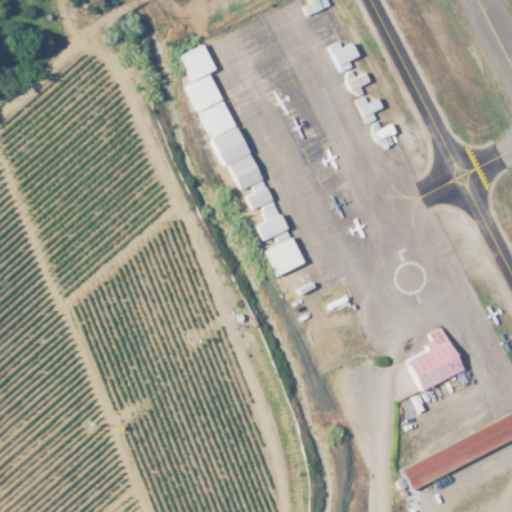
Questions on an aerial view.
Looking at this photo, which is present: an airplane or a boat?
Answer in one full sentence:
The image shows an airplane.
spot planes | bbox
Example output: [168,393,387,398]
[486,306,504,325]
[332,196,348,218]
[321,148,338,170]
[499,334,512,351]
[349,218,365,238]
[292,118,309,138]
[274,91,292,114]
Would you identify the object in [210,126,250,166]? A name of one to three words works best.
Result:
hangar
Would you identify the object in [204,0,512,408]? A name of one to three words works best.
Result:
airport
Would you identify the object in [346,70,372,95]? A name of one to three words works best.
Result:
hangar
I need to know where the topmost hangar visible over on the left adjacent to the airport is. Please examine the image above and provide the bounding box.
[179,44,216,82]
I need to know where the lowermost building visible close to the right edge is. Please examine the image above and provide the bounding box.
[404,412,512,490]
